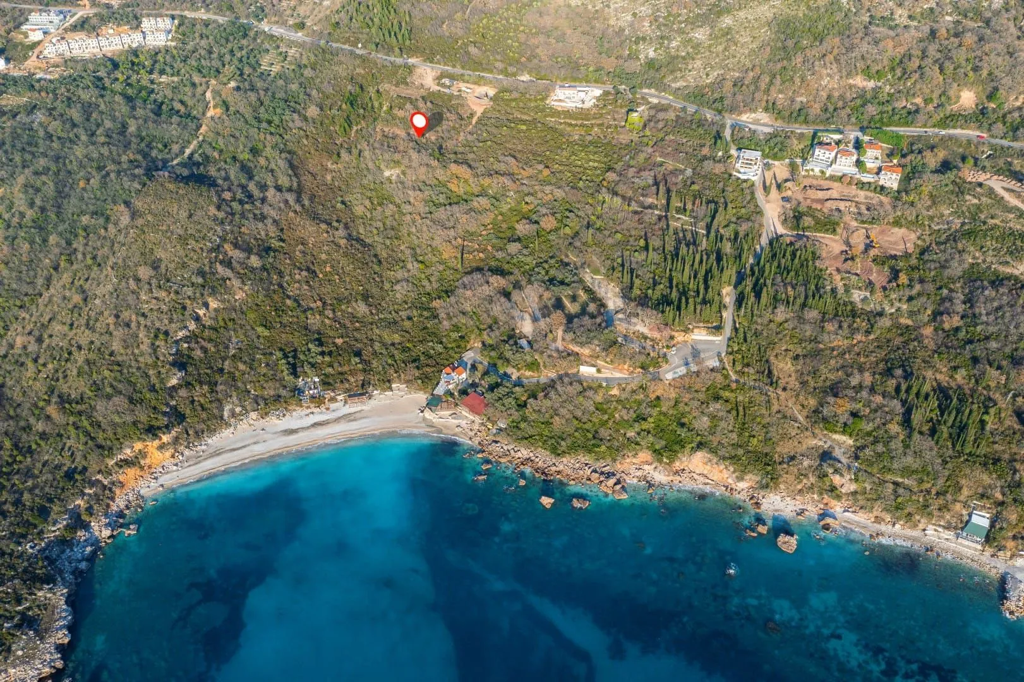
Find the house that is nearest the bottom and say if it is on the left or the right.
right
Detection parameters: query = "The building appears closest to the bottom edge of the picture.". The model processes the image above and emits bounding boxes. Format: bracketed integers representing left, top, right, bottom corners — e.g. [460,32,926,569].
[960,508,990,551]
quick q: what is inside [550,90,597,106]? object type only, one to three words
house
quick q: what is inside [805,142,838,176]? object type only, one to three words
house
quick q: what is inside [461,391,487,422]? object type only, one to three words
building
